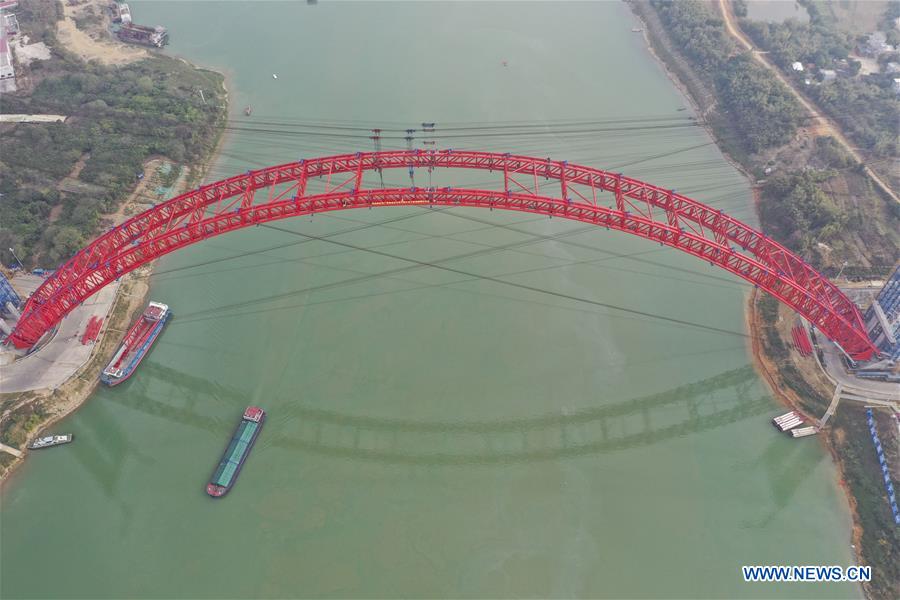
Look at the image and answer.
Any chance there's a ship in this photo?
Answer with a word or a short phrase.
Yes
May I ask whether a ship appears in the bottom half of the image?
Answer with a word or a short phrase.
Yes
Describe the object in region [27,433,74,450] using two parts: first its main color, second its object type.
white boat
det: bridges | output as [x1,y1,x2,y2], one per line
[0,148,888,365]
